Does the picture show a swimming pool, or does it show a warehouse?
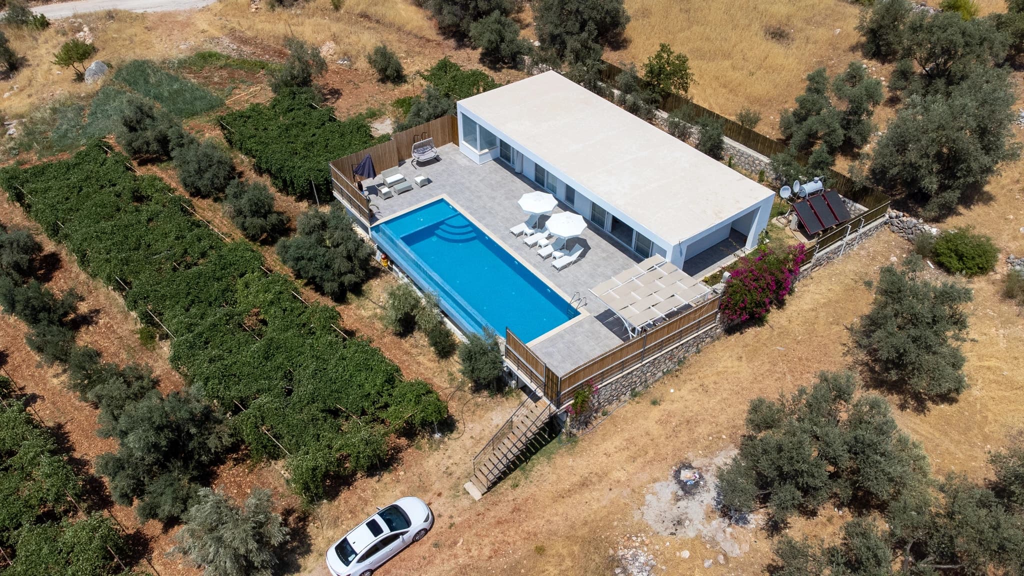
swimming pool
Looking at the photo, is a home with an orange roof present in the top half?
No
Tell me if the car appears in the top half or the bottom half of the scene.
bottom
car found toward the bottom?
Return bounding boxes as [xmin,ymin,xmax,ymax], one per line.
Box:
[321,492,435,576]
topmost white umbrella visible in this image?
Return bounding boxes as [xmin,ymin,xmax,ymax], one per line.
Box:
[518,187,560,216]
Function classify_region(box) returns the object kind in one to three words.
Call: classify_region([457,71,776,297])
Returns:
house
